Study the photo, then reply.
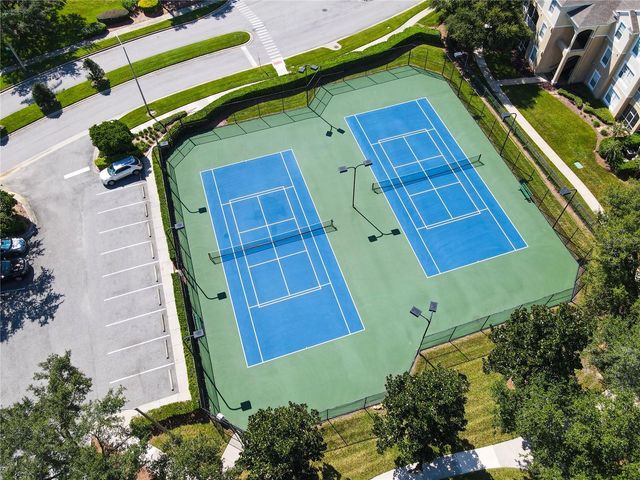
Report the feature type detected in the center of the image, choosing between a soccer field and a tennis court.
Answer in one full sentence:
Looking in the center of the image, you will find a tennis court.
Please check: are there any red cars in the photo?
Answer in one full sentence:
No, this view has no red car in it.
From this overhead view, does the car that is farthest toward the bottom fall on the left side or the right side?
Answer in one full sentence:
The car that is farthest toward the bottom sits on the left side.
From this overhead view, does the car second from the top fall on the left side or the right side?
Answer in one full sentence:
The car second from the top appears in the left half of the scene.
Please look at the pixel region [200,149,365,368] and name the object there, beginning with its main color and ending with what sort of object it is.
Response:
blue tennis court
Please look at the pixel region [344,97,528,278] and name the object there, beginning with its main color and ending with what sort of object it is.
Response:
blue tennis court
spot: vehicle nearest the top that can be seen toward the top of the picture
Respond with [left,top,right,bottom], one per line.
[99,156,143,184]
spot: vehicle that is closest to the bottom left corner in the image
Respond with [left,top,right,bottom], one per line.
[0,261,25,284]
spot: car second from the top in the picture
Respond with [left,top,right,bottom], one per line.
[0,236,26,259]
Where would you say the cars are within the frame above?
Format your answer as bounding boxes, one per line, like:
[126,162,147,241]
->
[0,261,25,284]
[0,236,26,259]
[99,156,143,184]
